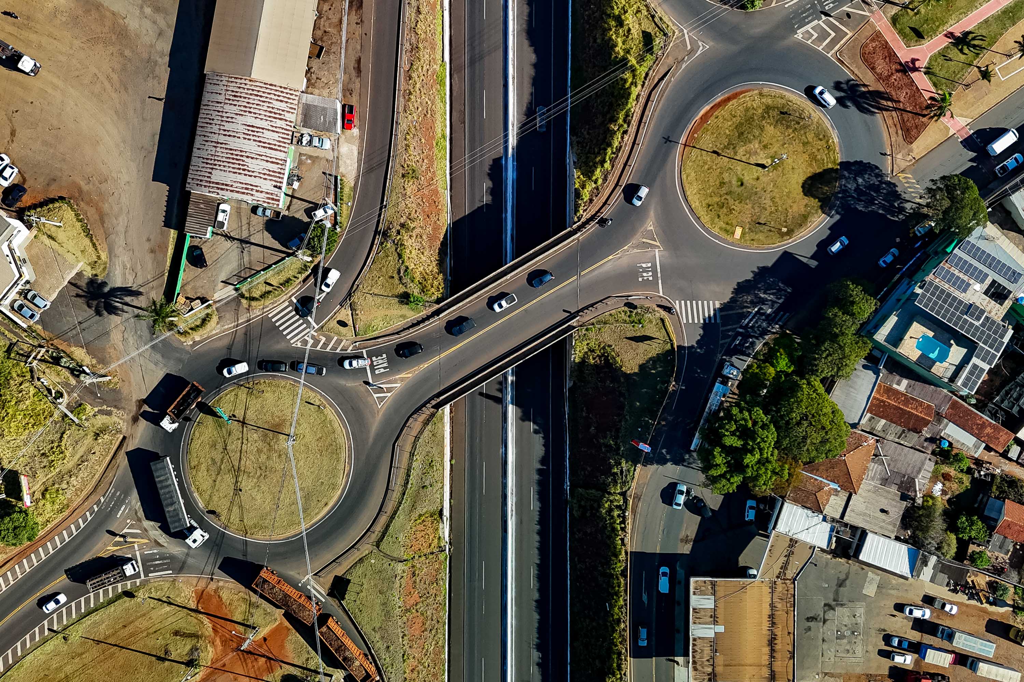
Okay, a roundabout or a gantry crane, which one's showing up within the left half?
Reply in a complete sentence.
Looking within the left half, you will find a roundabout.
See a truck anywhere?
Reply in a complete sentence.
Yes, a truck is visible in the scene.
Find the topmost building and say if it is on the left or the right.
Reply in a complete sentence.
The topmost building is on the left side of the image.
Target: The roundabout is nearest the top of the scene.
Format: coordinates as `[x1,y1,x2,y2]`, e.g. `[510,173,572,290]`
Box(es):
[632,39,885,293]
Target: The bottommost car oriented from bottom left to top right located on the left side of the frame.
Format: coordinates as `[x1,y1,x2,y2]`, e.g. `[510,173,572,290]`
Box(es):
[41,593,68,615]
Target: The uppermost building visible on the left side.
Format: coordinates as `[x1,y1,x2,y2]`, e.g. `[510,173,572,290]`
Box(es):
[205,0,316,95]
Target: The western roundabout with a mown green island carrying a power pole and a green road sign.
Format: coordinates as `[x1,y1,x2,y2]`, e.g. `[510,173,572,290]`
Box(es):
[149,341,385,576]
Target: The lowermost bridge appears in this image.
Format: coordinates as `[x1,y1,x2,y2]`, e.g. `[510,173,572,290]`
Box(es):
[422,220,615,403]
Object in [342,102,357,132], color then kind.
red vehicle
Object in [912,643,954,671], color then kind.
white truck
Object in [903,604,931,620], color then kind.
white car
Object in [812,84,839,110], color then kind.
white car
